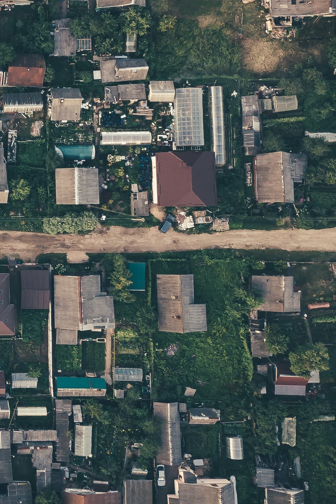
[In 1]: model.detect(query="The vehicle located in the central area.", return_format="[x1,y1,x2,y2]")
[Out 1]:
[158,214,174,234]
